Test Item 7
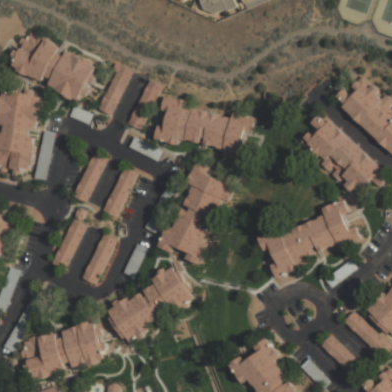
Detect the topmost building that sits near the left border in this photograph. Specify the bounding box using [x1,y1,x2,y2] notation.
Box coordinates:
[16,36,96,98]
